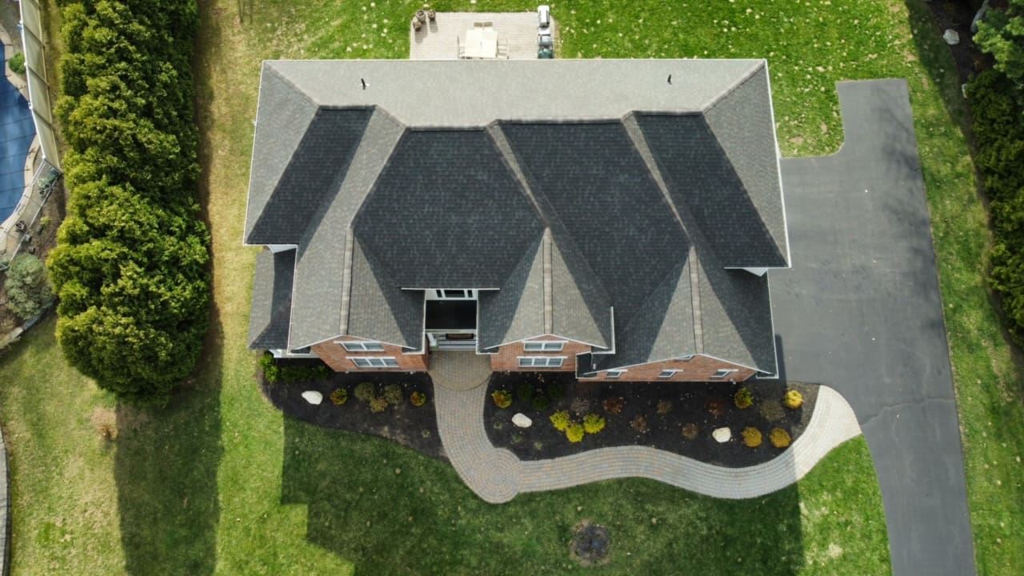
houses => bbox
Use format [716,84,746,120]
[242,58,792,383]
